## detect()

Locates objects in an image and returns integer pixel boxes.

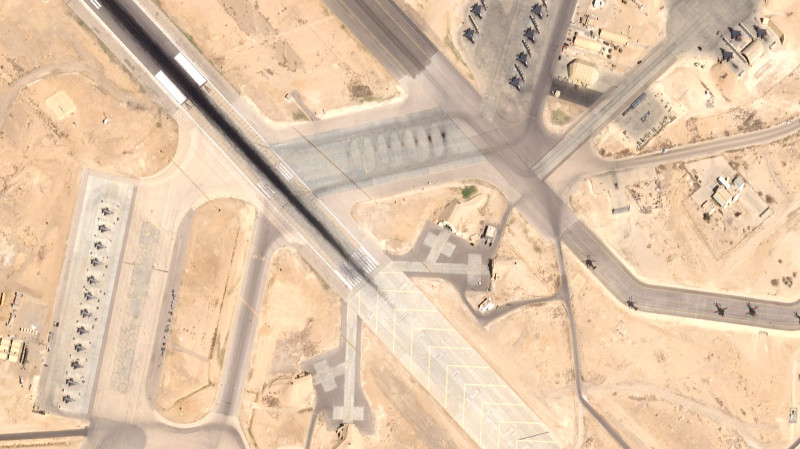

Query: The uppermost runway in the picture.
[82,0,207,105]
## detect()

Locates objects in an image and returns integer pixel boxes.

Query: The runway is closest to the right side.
[180,81,380,290]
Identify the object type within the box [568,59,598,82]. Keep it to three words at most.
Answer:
hangar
